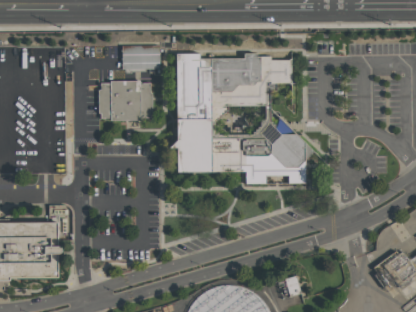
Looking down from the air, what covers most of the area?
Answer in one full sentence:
The bulk of the photo consists of paved ground.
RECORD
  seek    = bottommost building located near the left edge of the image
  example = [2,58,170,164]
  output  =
[0,222,62,282]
